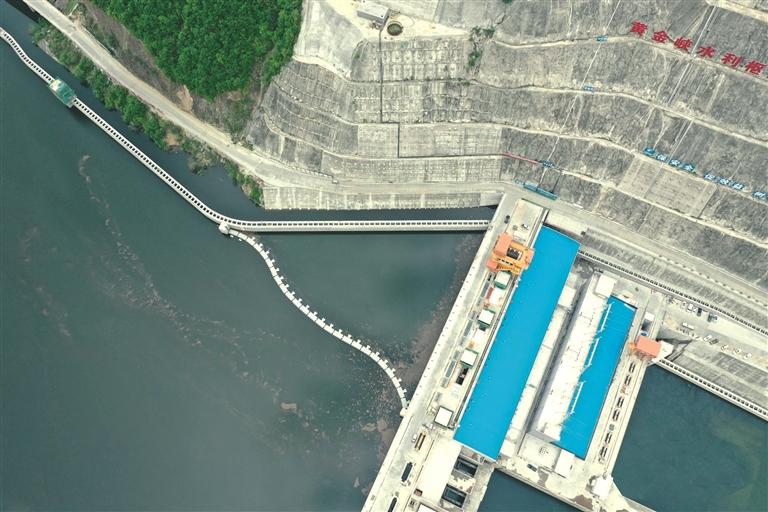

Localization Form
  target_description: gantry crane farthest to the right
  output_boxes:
[628,337,662,366]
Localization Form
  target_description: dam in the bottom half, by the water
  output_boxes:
[362,193,547,512]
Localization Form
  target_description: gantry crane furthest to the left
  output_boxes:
[485,232,538,277]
